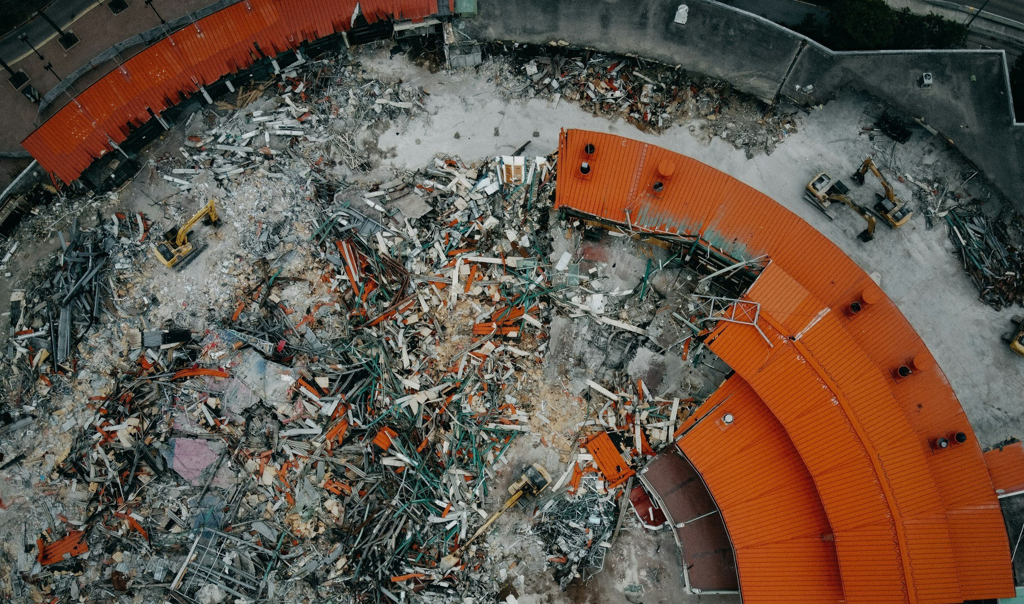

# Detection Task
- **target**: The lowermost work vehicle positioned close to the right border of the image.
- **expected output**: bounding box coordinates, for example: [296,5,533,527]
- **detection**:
[1000,319,1024,358]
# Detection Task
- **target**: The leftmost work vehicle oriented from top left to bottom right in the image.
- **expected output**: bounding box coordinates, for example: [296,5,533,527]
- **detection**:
[792,171,876,243]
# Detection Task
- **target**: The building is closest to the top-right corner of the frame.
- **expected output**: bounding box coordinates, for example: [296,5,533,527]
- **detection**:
[774,35,1024,227]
